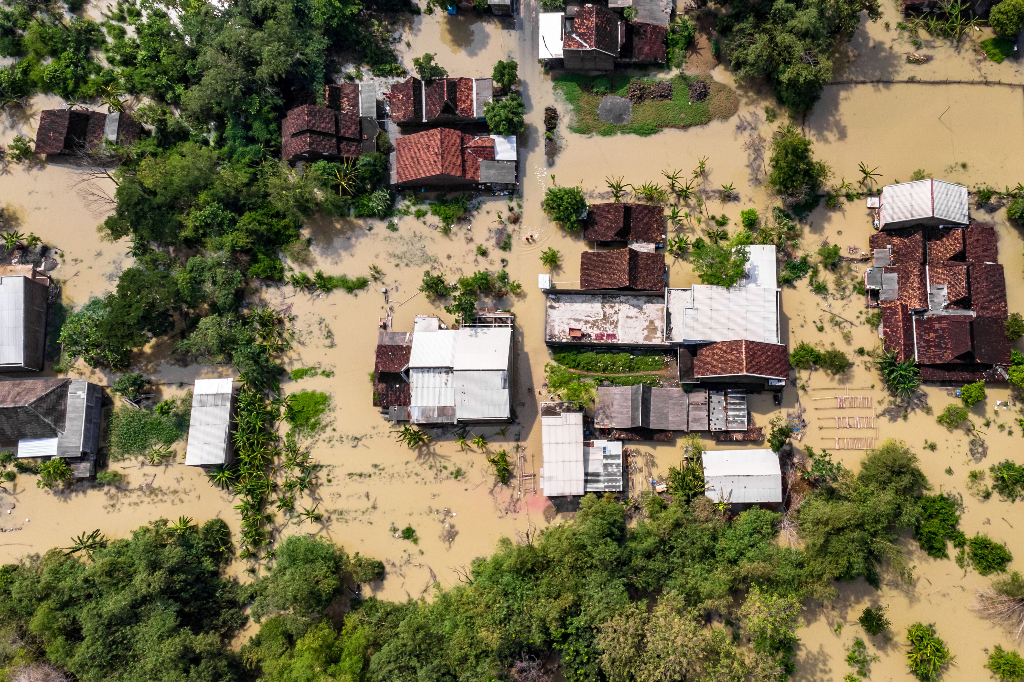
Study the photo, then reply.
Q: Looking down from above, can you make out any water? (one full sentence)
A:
Yes, some water is visible.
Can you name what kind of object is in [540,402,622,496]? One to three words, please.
building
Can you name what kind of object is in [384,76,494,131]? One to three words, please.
house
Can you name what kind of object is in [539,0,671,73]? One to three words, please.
house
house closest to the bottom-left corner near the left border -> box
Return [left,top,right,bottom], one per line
[0,378,109,477]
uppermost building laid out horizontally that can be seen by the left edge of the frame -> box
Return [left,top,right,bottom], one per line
[35,109,148,160]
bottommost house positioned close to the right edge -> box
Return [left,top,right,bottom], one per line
[861,227,1011,383]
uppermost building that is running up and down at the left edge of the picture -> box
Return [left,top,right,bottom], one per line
[0,263,52,373]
